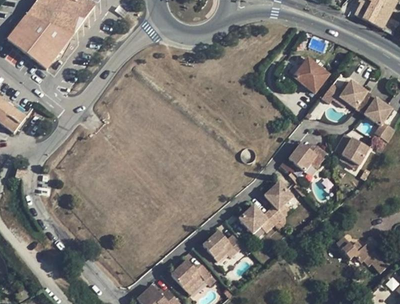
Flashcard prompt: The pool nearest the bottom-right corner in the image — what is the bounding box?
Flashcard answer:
[312,180,328,202]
